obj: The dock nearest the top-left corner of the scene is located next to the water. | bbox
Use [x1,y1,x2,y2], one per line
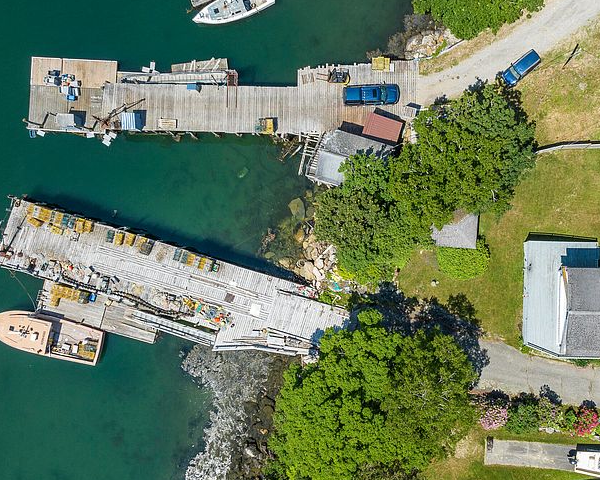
[29,56,63,87]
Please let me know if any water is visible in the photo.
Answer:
Yes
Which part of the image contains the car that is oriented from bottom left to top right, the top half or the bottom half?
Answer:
top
